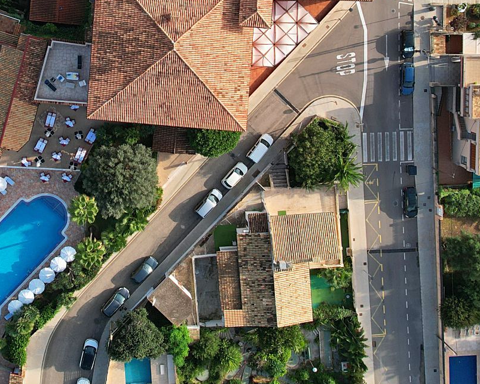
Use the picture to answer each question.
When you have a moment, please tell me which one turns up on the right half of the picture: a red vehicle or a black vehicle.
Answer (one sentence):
The one visible on the right half of the picture is a black vehicle.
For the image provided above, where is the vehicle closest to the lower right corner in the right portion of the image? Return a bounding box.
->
[401,187,420,218]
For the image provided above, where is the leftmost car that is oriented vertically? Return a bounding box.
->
[81,337,99,372]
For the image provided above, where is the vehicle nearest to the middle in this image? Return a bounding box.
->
[222,161,248,191]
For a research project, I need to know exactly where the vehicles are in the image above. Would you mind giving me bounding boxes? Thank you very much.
[401,187,420,218]
[77,377,90,384]
[222,161,248,191]
[398,63,417,97]
[81,337,99,372]
[131,254,159,286]
[246,132,274,165]
[399,30,418,62]
[195,188,223,220]
[102,285,130,318]
[432,18,445,29]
